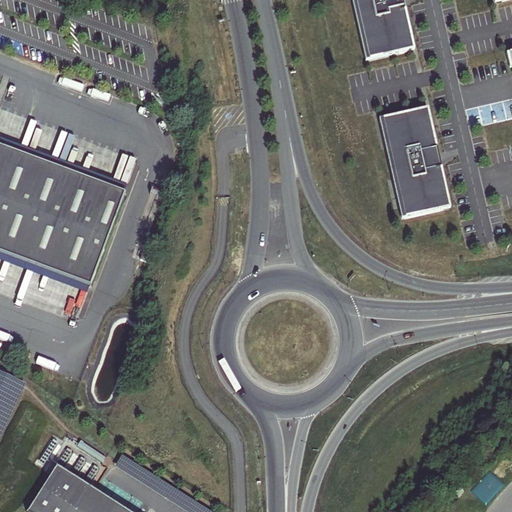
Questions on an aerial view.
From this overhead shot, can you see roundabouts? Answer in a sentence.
Yes, you can see a roundabout in this photo.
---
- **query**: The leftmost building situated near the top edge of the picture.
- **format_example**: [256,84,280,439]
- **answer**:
[350,0,414,62]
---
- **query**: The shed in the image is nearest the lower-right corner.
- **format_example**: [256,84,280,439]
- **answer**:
[471,472,506,506]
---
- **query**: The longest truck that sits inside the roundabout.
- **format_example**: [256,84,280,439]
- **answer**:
[220,358,244,398]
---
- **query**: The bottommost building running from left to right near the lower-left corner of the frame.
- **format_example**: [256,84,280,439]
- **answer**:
[26,464,132,512]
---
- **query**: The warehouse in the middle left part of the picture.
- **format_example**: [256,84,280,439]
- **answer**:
[0,137,127,294]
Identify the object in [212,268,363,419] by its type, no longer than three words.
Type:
roundabout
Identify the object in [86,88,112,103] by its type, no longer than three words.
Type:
vehicle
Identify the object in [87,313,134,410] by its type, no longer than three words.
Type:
pond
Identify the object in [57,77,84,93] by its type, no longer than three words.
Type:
vehicle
